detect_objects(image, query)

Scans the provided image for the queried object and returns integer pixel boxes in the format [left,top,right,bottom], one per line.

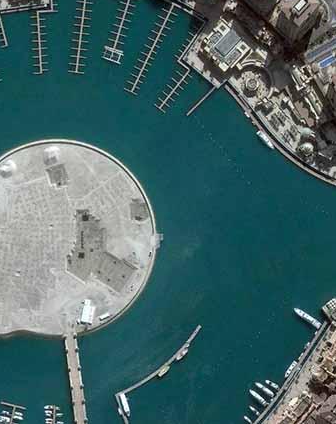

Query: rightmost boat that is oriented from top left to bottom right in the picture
[294,308,324,328]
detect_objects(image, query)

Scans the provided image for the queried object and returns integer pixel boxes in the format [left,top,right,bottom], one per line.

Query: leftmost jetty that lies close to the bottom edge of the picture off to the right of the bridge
[116,324,201,424]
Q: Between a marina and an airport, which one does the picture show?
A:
marina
